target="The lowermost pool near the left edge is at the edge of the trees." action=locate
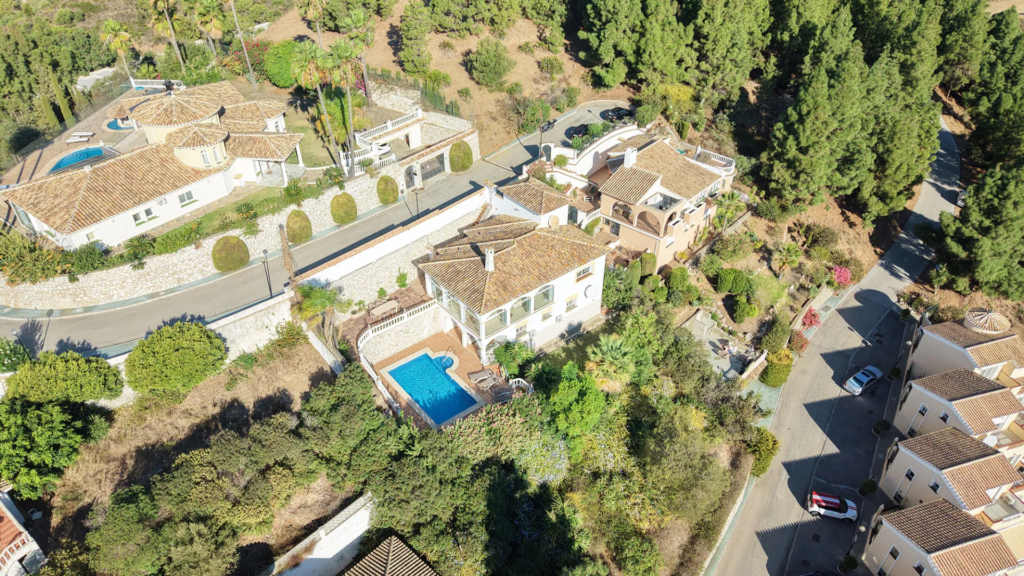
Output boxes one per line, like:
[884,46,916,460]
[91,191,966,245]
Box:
[44,142,114,174]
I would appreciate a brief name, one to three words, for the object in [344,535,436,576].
house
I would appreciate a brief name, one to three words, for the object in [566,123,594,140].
car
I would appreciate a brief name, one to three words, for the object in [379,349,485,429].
swimming pool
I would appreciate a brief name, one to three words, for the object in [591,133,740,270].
house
